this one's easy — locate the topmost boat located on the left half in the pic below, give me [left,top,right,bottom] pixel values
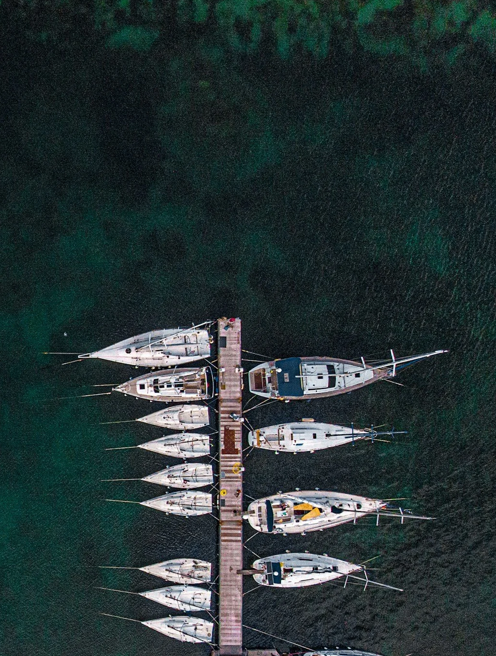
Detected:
[79,320,216,367]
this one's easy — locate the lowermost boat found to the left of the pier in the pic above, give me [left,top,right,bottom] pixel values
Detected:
[142,616,214,644]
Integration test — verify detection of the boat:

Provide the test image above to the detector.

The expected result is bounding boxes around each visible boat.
[142,464,214,488]
[142,616,214,644]
[249,551,407,591]
[115,366,214,401]
[79,320,216,367]
[139,558,211,584]
[248,421,413,451]
[139,491,211,516]
[244,488,437,532]
[243,349,449,400]
[137,405,209,429]
[137,433,210,458]
[138,585,211,612]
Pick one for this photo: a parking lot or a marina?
marina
